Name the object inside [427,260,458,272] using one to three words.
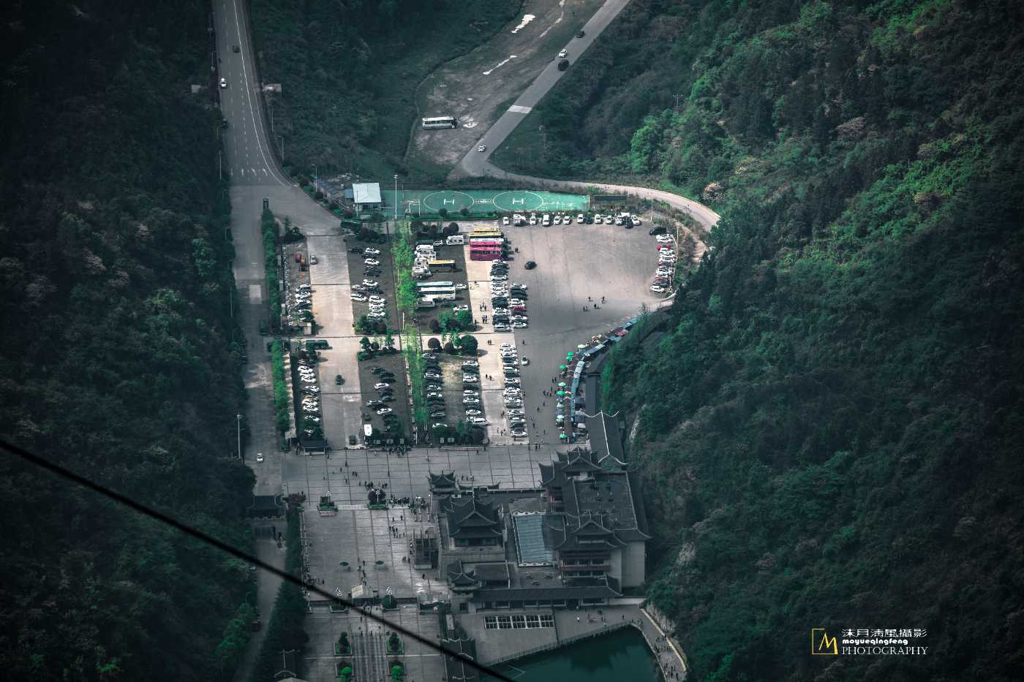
vehicle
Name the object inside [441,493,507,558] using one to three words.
building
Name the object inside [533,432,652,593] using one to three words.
building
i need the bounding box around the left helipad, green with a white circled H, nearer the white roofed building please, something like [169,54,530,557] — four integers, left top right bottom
[383,189,488,217]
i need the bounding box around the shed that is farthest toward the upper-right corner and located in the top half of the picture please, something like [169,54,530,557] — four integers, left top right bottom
[595,194,625,210]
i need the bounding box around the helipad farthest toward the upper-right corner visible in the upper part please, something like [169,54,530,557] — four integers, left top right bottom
[483,189,590,216]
